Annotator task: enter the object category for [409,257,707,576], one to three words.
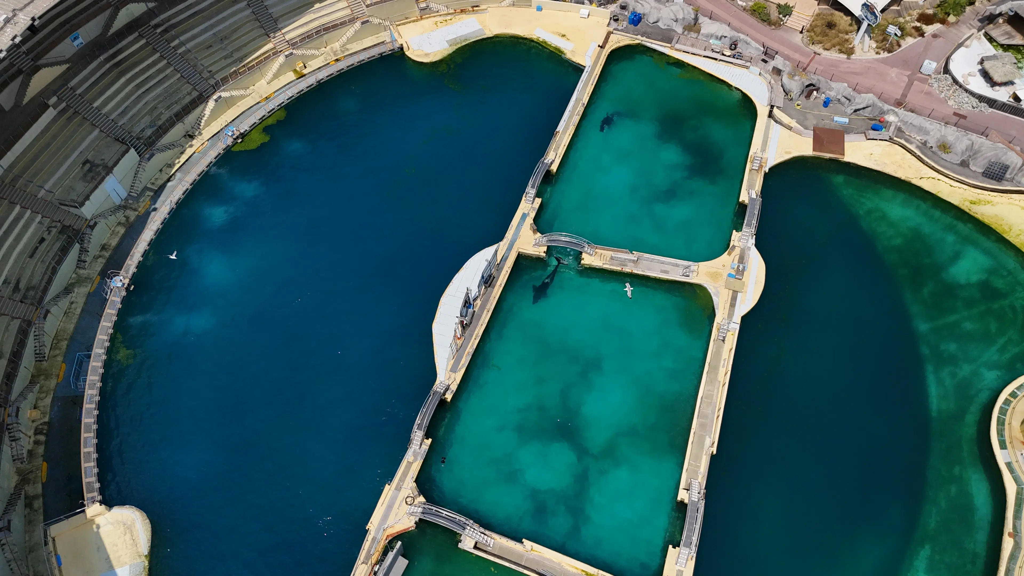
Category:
swimming pool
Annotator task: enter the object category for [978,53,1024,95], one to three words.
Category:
shed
